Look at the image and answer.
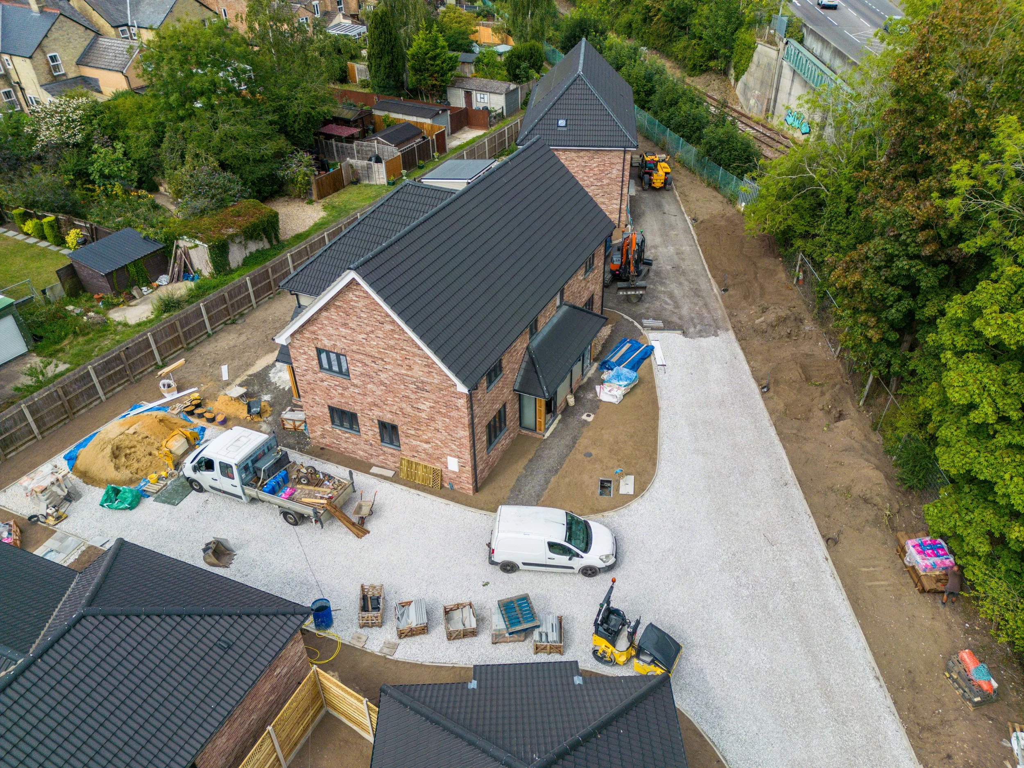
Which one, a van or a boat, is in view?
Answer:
van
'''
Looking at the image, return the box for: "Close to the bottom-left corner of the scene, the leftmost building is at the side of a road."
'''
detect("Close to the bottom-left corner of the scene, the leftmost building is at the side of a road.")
[0,532,313,768]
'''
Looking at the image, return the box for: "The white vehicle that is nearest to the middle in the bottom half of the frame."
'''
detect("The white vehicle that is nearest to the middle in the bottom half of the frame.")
[483,504,619,580]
